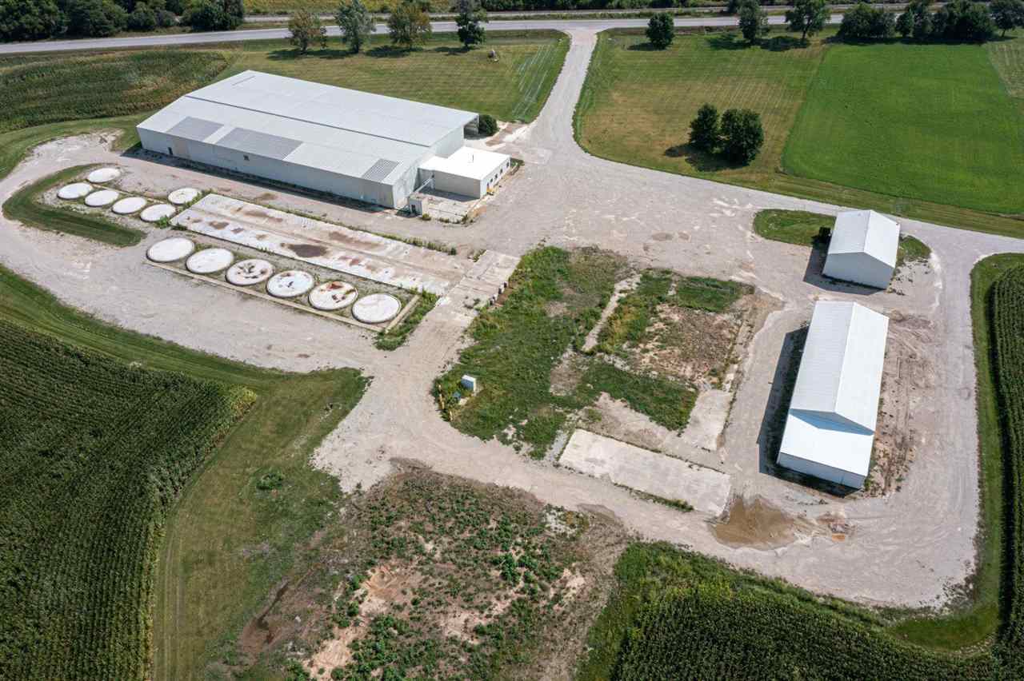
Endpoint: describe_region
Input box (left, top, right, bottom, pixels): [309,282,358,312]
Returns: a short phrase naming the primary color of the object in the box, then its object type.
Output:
white storage tank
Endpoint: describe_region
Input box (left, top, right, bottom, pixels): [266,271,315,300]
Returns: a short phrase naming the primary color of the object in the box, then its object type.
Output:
white storage tank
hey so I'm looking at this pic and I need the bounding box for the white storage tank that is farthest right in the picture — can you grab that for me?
[352,294,401,326]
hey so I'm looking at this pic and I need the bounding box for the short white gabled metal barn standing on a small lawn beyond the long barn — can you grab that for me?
[822,209,900,289]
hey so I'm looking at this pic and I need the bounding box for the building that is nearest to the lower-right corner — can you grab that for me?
[776,300,889,489]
